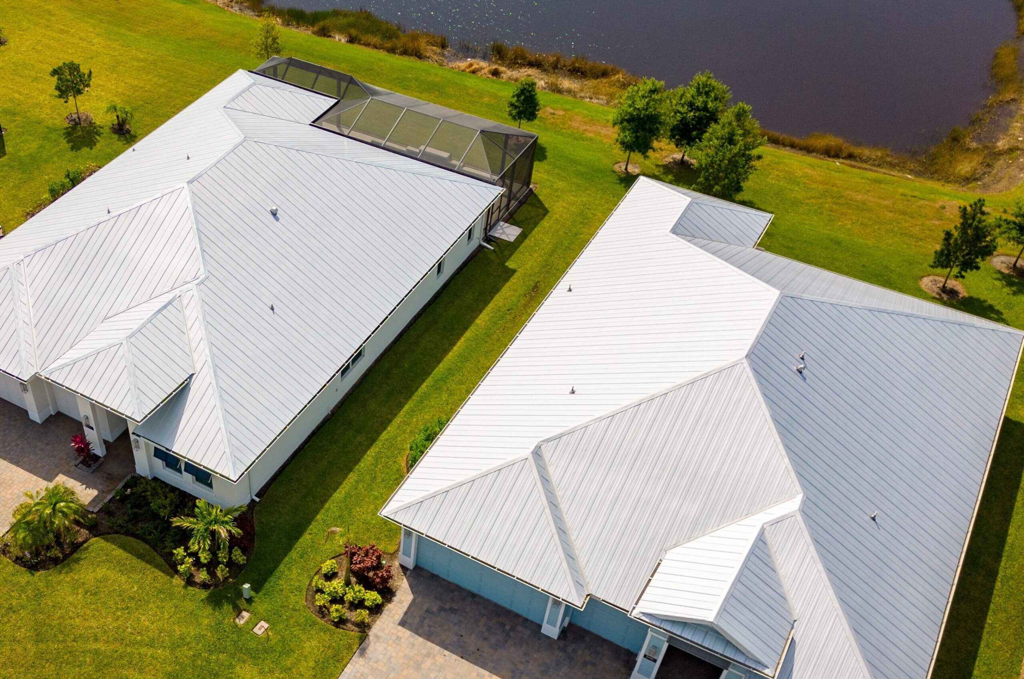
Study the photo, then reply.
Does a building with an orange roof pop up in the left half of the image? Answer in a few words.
No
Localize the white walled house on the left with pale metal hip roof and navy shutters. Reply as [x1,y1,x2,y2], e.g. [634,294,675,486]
[0,68,506,513]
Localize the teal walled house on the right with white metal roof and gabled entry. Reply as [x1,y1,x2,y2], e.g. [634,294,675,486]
[371,173,1024,679]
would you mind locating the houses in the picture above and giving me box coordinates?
[0,68,506,513]
[371,173,1024,679]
